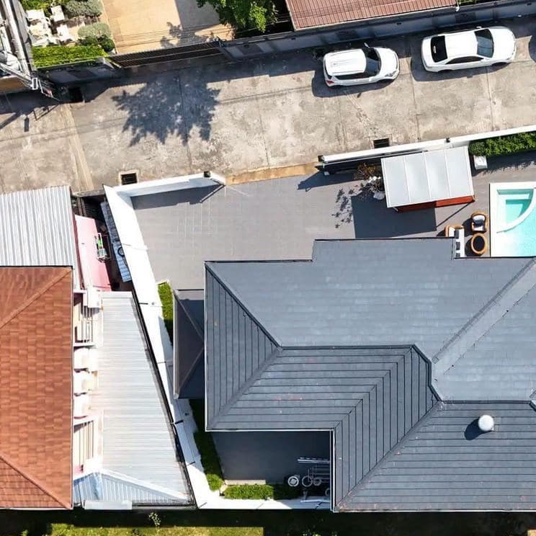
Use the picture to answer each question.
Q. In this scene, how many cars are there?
2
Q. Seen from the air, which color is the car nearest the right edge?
white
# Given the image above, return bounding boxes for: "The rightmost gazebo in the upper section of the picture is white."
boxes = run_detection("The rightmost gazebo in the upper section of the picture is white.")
[382,145,475,213]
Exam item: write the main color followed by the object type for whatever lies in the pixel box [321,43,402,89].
white car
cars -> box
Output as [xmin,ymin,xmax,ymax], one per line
[421,25,515,75]
[321,43,402,89]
